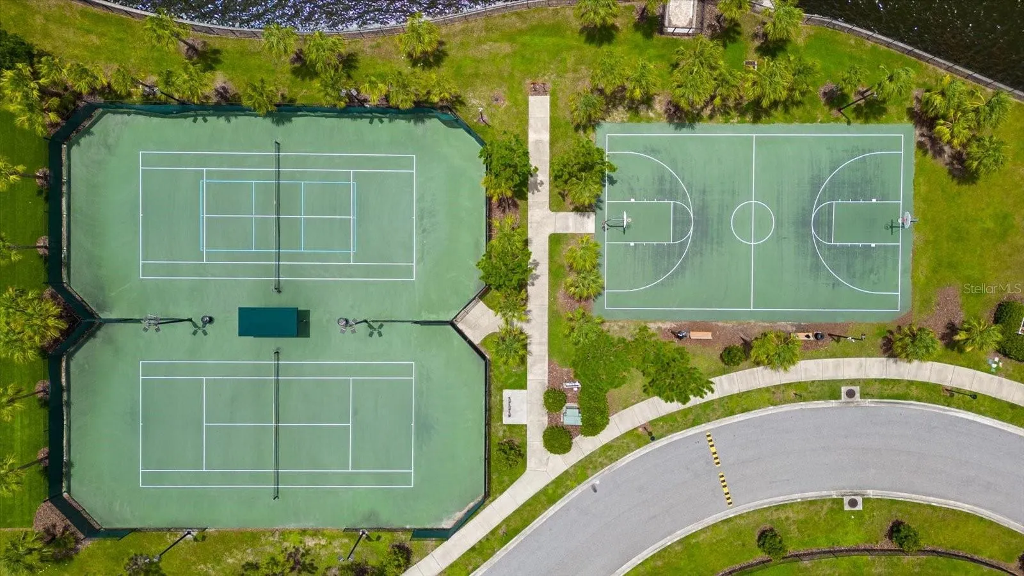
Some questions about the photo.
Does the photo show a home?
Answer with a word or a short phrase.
No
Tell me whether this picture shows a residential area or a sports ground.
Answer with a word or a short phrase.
sports ground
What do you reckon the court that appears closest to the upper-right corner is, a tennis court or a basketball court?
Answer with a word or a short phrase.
basketball court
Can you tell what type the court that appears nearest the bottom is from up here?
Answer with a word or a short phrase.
tennis court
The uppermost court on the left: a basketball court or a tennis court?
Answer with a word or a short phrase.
tennis court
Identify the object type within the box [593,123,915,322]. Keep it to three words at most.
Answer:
basketball court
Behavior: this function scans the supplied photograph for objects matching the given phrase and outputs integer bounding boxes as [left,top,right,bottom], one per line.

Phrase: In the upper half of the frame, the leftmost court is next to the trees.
[66,110,487,320]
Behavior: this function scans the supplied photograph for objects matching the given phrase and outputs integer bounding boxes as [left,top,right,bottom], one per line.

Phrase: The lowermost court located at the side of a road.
[66,320,486,528]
